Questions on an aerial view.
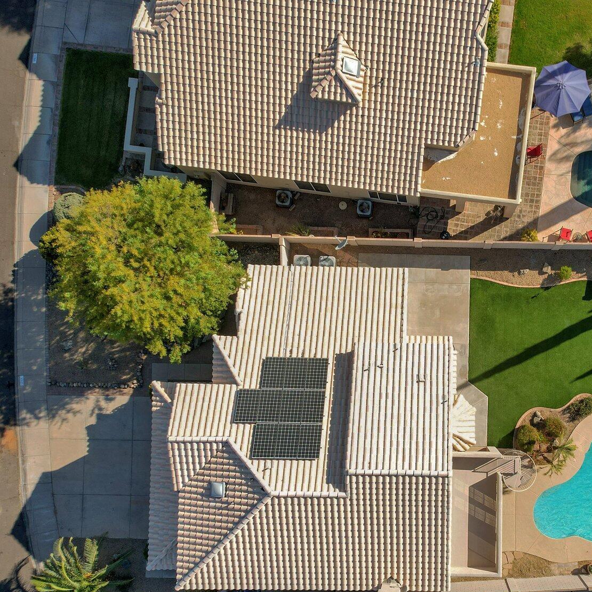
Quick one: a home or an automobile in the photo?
home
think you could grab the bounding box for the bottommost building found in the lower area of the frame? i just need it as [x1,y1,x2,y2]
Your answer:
[145,265,501,592]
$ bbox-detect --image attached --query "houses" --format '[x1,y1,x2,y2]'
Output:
[132,0,535,221]
[145,265,501,592]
